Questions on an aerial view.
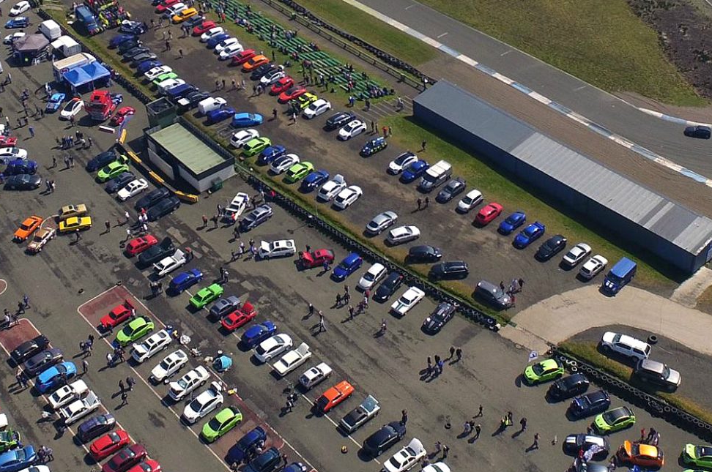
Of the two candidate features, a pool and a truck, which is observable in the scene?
truck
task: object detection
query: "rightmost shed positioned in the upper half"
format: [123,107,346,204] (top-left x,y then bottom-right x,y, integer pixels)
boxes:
[411,79,712,274]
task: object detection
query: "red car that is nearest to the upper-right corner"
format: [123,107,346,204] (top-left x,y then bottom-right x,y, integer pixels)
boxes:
[476,201,506,225]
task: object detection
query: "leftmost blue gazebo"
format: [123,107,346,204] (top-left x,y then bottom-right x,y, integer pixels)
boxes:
[61,61,113,99]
